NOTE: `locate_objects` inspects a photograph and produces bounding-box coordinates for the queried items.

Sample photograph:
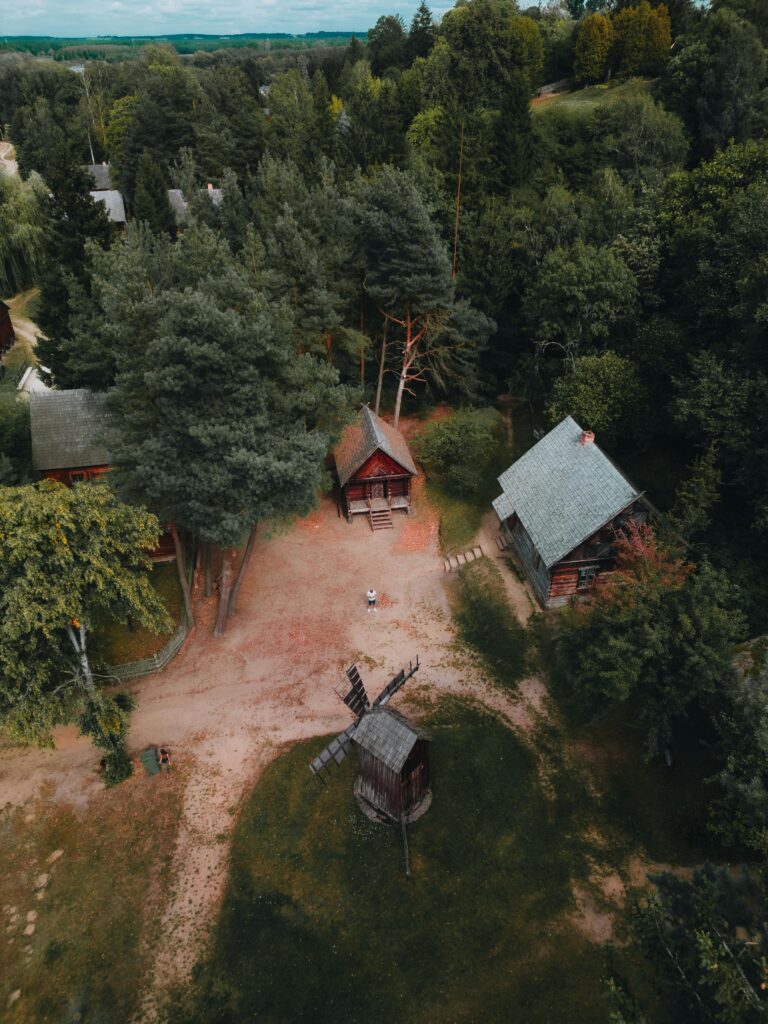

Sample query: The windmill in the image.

[306,658,438,879]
